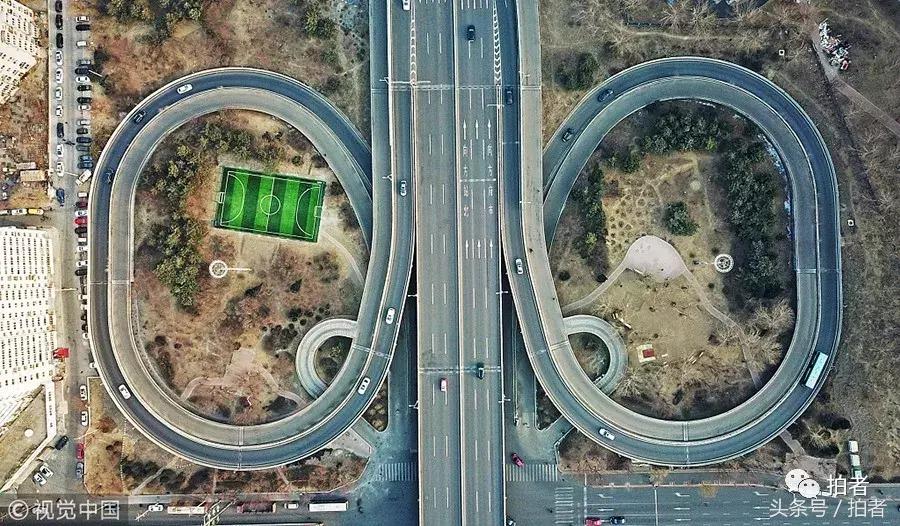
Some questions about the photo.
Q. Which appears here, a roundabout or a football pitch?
football pitch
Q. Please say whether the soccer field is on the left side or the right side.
left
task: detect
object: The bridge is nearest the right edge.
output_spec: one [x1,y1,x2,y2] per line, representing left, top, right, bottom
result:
[516,0,819,443]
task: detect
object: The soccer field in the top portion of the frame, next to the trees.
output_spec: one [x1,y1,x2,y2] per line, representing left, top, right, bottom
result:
[214,166,326,242]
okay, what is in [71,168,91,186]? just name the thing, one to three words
vehicle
